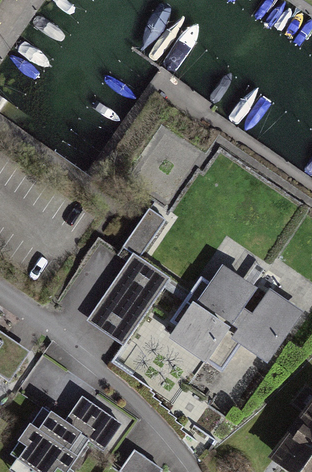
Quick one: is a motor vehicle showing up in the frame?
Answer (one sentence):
Yes, this view includes a motor vehicle.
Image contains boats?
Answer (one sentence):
Yes, the frame does contain a boat.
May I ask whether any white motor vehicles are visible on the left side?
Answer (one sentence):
Yes, on the left side there is a white motor vehicle.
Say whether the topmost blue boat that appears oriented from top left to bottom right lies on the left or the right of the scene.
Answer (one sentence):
The topmost blue boat that appears oriented from top left to bottom right sits on the left side.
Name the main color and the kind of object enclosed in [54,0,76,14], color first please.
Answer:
white boat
